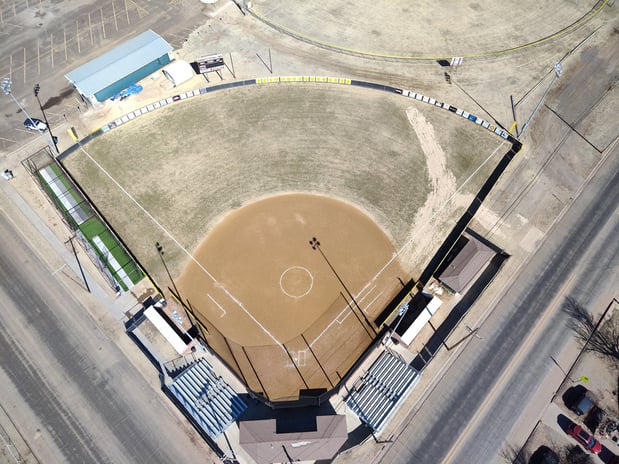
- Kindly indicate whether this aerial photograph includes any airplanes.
No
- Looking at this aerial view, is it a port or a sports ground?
sports ground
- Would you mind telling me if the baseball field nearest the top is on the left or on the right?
right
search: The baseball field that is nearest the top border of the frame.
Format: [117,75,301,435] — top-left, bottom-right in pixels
[243,0,610,60]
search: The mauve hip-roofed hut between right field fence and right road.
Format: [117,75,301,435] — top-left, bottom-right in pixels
[436,240,496,297]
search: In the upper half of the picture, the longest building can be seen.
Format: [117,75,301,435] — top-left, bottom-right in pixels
[64,30,177,111]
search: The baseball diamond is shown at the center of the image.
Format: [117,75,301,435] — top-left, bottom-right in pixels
[59,81,519,406]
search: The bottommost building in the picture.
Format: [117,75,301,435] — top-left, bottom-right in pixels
[239,416,348,464]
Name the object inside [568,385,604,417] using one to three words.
car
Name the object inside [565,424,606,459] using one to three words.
car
